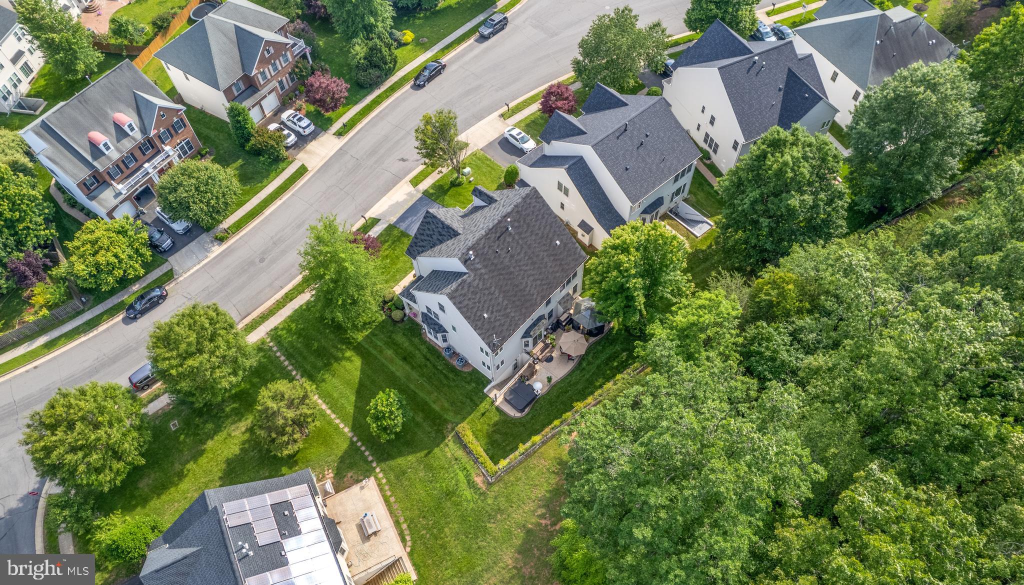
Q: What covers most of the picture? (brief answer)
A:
trees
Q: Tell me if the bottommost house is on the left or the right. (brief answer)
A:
left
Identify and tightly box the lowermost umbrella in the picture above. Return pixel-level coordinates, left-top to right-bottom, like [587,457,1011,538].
[558,333,589,360]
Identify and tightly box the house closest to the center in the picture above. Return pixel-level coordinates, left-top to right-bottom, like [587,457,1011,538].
[398,183,588,399]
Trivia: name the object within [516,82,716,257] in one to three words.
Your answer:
house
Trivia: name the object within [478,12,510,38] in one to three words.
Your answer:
car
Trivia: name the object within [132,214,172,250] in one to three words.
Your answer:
truck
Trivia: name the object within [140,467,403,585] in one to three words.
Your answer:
house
